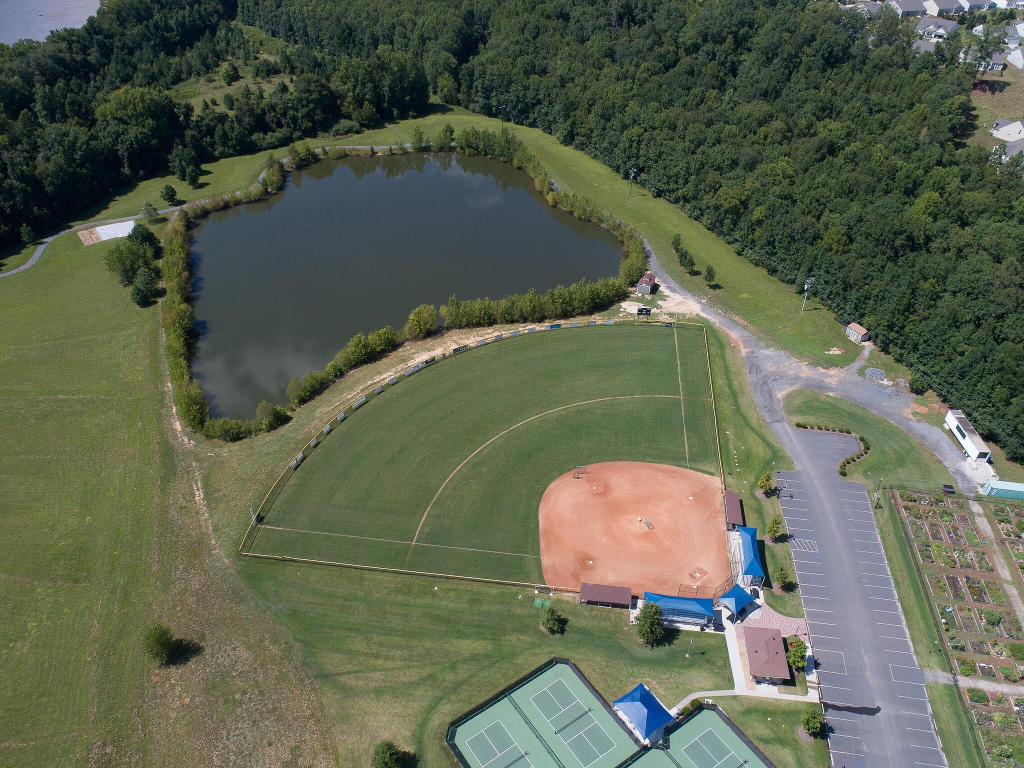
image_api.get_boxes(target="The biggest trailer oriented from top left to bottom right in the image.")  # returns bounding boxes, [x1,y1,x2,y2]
[944,410,991,462]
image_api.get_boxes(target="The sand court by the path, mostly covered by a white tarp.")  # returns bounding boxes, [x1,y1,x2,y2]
[77,220,135,245]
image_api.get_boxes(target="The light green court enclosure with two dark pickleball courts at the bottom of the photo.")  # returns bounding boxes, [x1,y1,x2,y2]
[454,663,641,768]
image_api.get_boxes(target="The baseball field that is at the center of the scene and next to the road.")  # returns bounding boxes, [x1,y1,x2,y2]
[241,316,731,601]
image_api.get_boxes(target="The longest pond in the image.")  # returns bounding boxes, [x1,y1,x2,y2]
[193,153,623,425]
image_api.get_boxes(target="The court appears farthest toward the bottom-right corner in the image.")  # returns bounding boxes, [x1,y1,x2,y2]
[639,710,770,768]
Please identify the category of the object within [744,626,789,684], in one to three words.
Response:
building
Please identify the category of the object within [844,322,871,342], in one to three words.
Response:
shed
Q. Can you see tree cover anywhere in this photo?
Yes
